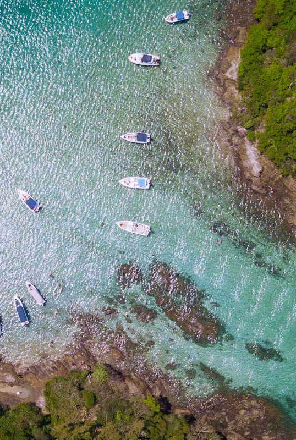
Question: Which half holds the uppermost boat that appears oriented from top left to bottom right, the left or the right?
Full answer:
It is on the left.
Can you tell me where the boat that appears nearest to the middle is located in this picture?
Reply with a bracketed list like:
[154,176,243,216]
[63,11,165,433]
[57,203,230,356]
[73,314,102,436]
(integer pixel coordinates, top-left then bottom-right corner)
[117,220,154,239]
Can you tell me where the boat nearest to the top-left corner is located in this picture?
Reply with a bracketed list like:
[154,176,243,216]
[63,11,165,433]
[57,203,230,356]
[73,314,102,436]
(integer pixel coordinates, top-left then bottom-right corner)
[129,53,162,67]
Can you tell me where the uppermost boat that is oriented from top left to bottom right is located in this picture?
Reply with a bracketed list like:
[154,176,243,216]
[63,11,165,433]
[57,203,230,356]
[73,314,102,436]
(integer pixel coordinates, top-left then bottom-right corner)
[18,188,43,216]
